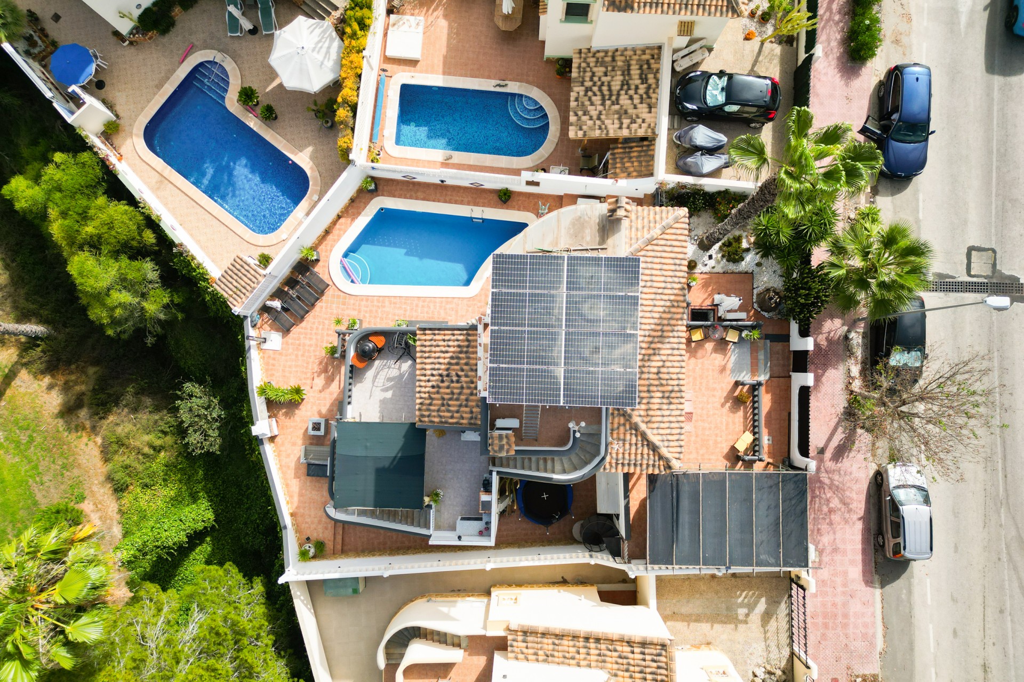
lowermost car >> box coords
[875,460,939,565]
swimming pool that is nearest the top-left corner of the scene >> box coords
[130,47,319,244]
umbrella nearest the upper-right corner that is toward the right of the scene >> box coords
[714,295,744,317]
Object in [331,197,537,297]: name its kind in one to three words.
swimming pool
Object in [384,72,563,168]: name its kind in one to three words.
swimming pool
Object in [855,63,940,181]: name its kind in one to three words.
car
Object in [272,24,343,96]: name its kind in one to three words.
umbrella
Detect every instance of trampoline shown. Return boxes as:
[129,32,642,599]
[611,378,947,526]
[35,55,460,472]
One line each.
[517,482,574,537]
